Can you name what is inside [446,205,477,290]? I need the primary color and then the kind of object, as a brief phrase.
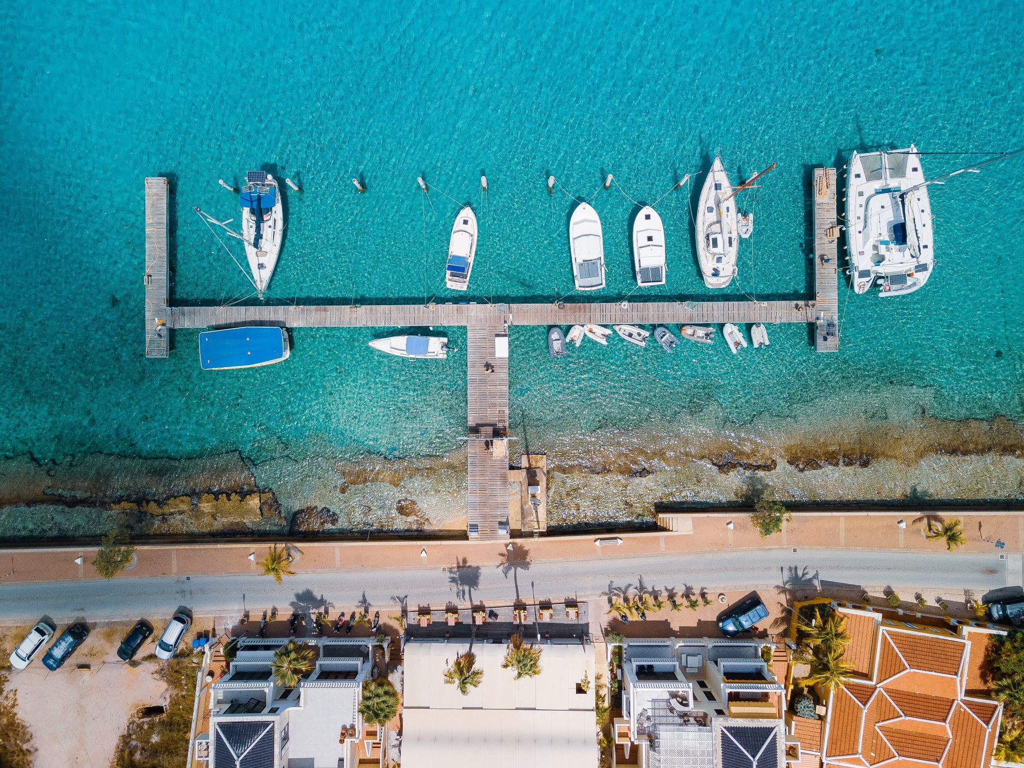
white boat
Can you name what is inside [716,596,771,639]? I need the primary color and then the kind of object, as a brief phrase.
blue vehicle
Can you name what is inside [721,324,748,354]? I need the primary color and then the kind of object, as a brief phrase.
white boat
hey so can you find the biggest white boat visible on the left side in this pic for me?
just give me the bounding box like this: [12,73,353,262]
[191,171,284,298]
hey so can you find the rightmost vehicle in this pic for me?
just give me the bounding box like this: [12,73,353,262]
[982,595,1024,625]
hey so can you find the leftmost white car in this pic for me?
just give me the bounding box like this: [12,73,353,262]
[10,620,55,668]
